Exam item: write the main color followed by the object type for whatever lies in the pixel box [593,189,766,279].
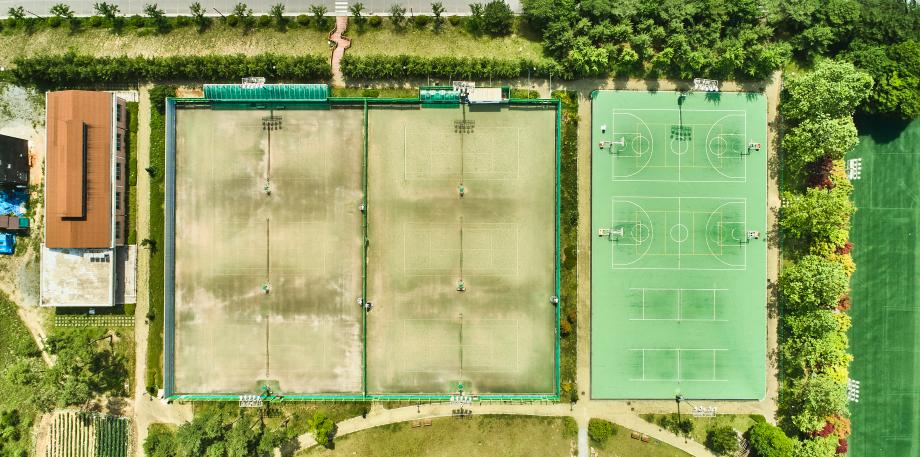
green basketball court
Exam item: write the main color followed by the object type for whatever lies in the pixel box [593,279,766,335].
green sports court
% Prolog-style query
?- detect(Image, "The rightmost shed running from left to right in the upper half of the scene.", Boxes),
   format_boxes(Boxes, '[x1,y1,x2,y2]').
[468,88,501,101]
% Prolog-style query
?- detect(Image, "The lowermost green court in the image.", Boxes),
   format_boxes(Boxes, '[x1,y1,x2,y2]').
[593,335,766,400]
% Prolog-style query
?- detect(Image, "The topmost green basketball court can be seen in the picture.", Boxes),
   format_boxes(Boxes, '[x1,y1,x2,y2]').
[593,92,766,189]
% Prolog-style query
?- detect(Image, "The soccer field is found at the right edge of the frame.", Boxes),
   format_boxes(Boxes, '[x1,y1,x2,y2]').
[848,96,920,457]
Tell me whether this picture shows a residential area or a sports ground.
sports ground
